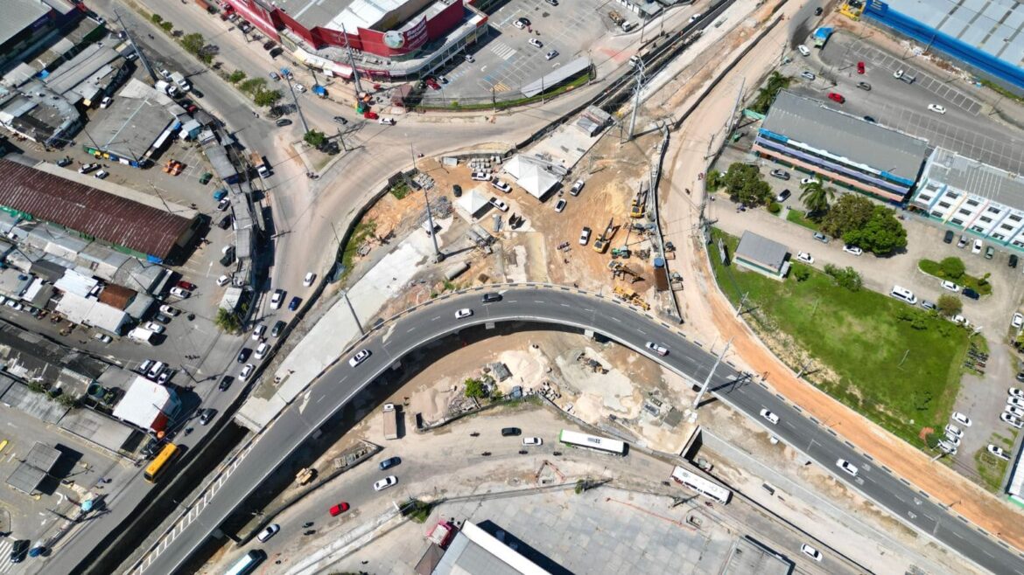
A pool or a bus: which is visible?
bus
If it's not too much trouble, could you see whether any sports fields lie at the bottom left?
No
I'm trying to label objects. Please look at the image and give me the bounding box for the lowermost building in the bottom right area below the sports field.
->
[722,536,793,575]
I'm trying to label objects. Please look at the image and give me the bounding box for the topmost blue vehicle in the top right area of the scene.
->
[815,24,834,44]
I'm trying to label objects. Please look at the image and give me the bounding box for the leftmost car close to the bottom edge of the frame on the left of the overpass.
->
[10,538,31,565]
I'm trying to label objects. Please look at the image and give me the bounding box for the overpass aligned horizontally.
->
[124,284,1024,575]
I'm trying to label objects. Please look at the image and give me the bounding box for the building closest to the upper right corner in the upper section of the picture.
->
[855,0,1024,103]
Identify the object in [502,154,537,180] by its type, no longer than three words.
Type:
tent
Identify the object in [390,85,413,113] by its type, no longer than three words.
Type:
shed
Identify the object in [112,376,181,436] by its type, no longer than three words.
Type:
building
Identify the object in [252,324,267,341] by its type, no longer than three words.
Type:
car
